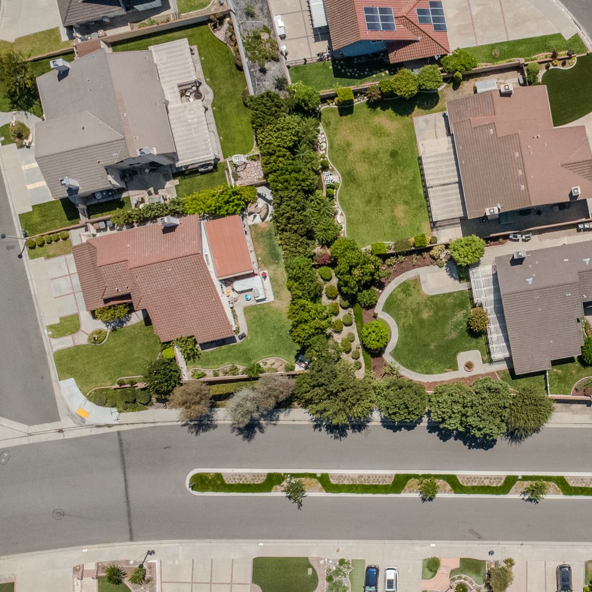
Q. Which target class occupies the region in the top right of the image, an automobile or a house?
house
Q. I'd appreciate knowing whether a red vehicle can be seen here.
No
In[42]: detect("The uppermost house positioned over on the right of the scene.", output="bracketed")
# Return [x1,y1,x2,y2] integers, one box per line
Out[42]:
[325,0,450,65]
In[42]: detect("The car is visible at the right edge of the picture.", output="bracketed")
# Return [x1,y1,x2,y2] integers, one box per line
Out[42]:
[556,563,574,592]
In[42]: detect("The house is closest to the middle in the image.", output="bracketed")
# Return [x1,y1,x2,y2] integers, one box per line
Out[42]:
[71,214,237,344]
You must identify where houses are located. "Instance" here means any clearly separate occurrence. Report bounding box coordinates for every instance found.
[446,82,592,222]
[495,240,592,375]
[57,0,132,28]
[71,214,237,344]
[35,47,184,199]
[325,0,450,65]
